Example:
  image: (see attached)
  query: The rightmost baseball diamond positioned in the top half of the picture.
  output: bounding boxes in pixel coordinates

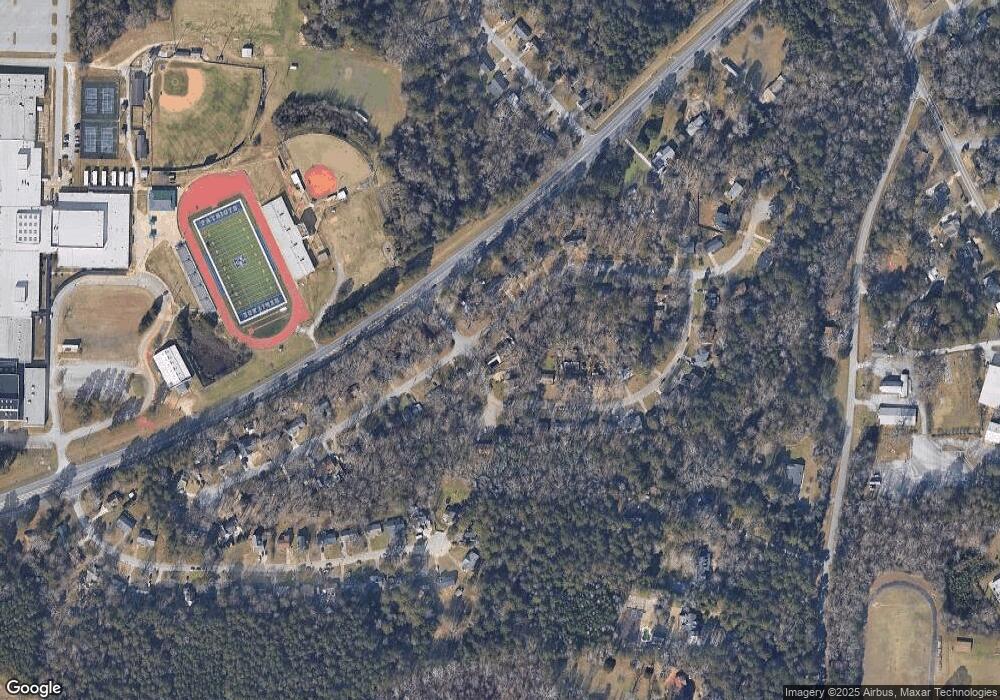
[286,134,373,204]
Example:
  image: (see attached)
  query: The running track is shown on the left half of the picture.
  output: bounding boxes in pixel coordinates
[177,168,310,351]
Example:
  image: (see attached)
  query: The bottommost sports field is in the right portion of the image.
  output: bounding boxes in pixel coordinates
[869,586,933,700]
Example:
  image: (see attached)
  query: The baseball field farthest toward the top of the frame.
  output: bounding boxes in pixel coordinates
[154,62,262,168]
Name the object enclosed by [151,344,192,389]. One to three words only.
building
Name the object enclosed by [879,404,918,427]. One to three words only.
building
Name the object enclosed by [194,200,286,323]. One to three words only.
sports field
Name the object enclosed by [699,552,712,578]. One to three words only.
house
